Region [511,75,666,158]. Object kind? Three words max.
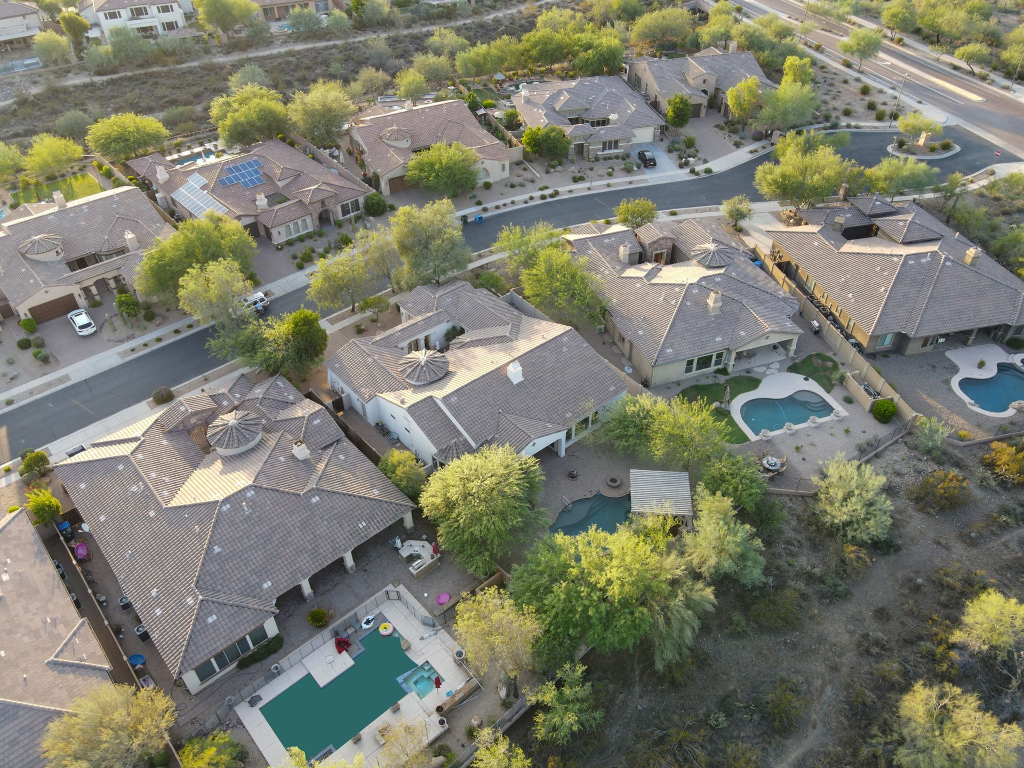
house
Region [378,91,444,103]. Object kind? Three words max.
swimming pool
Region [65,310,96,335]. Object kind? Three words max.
car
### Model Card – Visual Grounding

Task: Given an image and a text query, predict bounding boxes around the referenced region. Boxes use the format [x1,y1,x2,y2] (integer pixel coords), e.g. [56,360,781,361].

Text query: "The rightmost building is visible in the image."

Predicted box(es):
[764,192,1024,355]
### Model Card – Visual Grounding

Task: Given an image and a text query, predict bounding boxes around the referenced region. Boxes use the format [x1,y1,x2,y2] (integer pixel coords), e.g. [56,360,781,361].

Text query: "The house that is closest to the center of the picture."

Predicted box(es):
[323,279,629,473]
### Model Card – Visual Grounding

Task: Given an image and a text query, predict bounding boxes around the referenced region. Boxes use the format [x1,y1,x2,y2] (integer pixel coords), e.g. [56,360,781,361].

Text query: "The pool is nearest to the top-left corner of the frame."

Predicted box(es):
[0,56,42,76]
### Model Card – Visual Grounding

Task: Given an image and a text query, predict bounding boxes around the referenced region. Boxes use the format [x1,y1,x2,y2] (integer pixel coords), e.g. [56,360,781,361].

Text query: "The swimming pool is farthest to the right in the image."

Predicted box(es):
[944,344,1024,419]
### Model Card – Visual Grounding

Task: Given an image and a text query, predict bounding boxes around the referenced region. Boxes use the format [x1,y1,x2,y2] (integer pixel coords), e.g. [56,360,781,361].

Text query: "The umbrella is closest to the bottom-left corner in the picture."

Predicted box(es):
[328,635,355,657]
